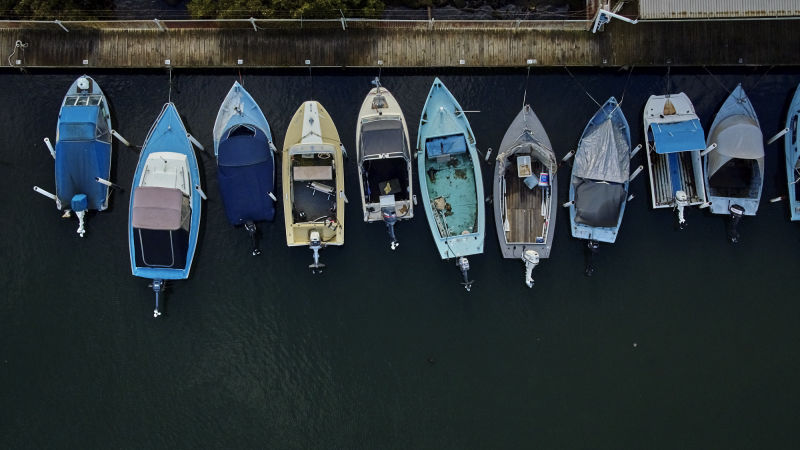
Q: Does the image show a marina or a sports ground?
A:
marina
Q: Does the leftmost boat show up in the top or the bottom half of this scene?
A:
top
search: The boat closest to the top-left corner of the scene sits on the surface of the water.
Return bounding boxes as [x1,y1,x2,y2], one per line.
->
[54,74,113,239]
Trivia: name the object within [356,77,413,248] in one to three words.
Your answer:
boat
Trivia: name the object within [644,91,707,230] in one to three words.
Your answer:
boat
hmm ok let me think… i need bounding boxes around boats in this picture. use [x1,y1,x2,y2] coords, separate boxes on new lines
[569,96,632,276]
[414,77,485,292]
[281,100,345,277]
[705,84,765,245]
[212,80,275,256]
[493,102,559,289]
[54,74,113,239]
[644,91,707,230]
[783,83,800,220]
[128,102,202,318]
[356,77,413,248]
